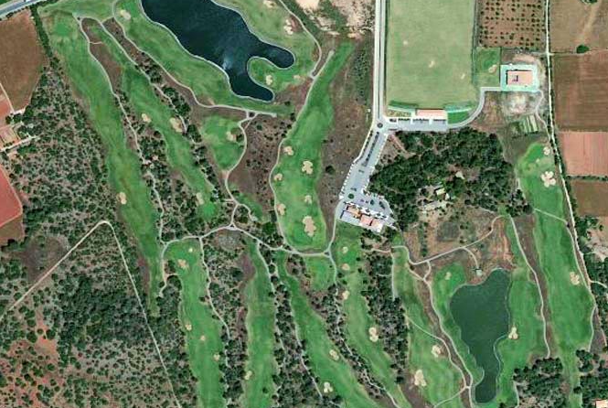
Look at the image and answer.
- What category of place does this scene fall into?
golf course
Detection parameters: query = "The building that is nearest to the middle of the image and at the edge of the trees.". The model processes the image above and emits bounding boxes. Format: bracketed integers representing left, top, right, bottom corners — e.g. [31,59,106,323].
[337,200,386,234]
